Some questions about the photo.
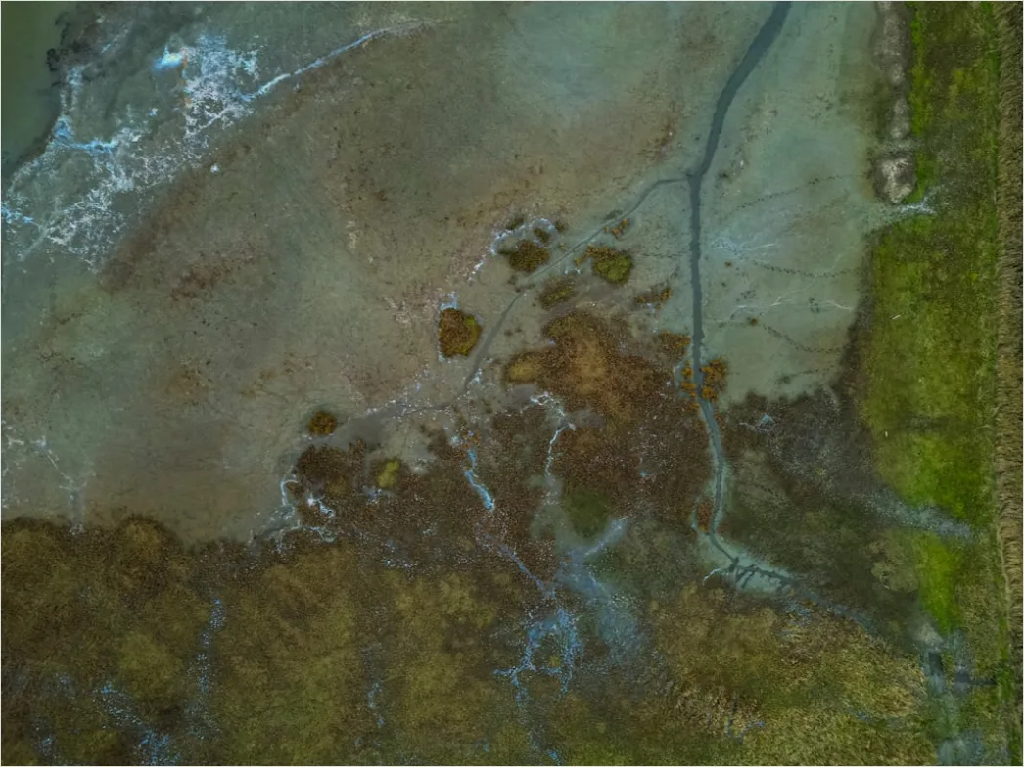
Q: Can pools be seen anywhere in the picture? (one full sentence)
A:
Yes, there is a pool in the image.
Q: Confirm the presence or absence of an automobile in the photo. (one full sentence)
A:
No, there is no automobile in the image.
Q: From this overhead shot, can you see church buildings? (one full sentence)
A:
No, there is no church building in the image.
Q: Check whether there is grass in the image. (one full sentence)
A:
Yes, grass shows up in the scene.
